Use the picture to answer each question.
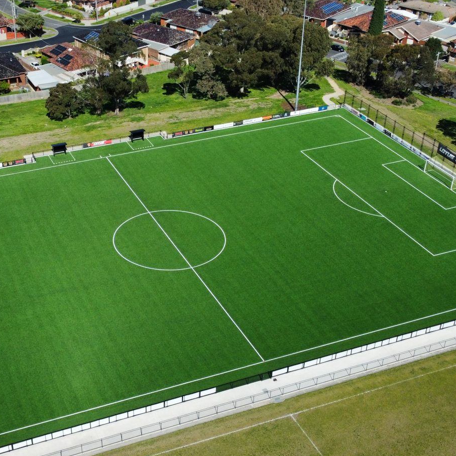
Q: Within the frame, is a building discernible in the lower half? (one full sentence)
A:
No, looking in the lower half, there is no building.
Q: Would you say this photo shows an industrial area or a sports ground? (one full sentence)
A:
The picture captures a sports ground.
